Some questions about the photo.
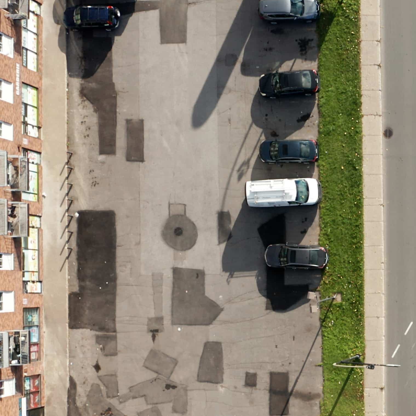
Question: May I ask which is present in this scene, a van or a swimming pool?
van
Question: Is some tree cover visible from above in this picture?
No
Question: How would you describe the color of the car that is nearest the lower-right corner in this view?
black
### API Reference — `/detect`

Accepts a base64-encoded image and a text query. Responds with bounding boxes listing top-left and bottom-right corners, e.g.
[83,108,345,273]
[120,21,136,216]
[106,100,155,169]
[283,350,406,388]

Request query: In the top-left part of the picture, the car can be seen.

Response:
[62,2,119,31]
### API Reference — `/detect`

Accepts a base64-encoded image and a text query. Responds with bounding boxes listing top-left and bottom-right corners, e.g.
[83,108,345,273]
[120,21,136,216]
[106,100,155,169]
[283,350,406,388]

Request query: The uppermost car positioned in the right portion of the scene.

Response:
[259,0,320,26]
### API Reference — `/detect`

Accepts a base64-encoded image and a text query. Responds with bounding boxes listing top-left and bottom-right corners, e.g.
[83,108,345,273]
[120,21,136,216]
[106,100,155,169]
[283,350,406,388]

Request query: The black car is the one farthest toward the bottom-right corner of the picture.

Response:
[265,243,330,269]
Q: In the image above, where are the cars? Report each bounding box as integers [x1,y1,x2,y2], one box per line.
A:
[62,2,119,31]
[259,0,320,26]
[260,139,320,164]
[259,73,320,100]
[265,243,330,269]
